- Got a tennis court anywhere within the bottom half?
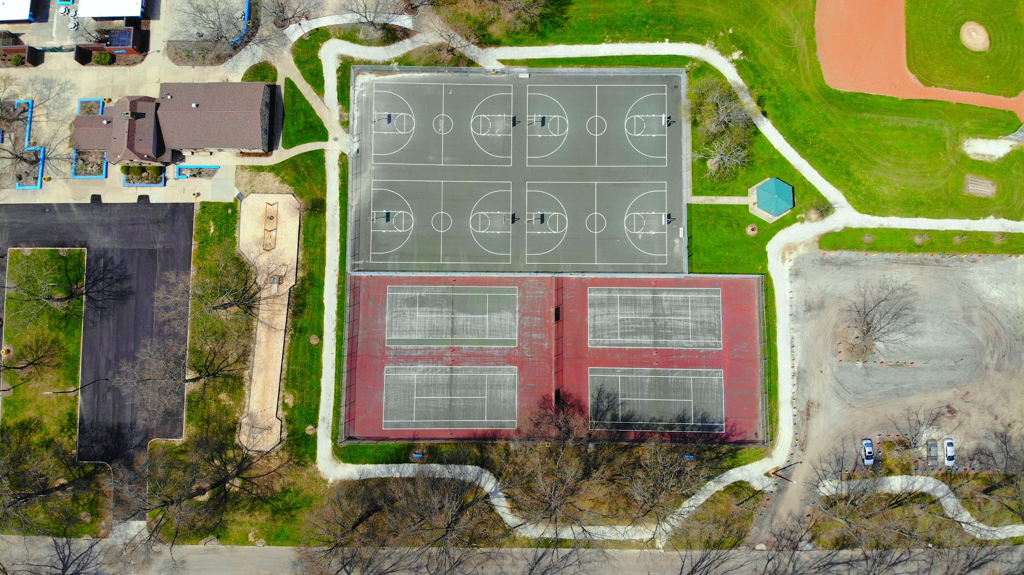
Yes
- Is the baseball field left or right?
right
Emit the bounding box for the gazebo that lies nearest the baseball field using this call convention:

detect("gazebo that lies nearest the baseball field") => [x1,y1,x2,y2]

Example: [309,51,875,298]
[754,177,794,218]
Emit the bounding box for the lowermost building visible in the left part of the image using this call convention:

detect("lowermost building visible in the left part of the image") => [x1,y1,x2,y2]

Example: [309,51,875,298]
[72,83,269,165]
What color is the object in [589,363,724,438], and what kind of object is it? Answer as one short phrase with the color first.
gray tennis court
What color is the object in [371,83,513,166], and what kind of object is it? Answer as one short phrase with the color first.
gray basketball court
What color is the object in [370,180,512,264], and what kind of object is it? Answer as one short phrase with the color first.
gray basketball court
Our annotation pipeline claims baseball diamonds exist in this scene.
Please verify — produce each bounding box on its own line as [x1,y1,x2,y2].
[815,0,1024,124]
